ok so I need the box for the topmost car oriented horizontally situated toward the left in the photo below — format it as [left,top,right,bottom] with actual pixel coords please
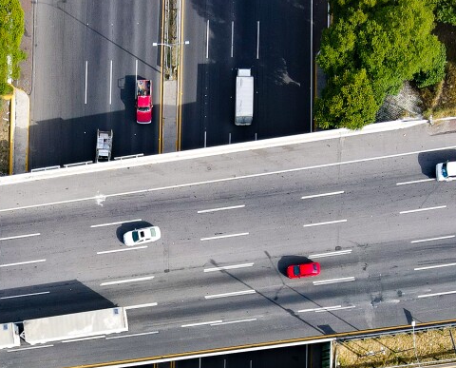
[124,227,162,247]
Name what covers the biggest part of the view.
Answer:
paved ground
